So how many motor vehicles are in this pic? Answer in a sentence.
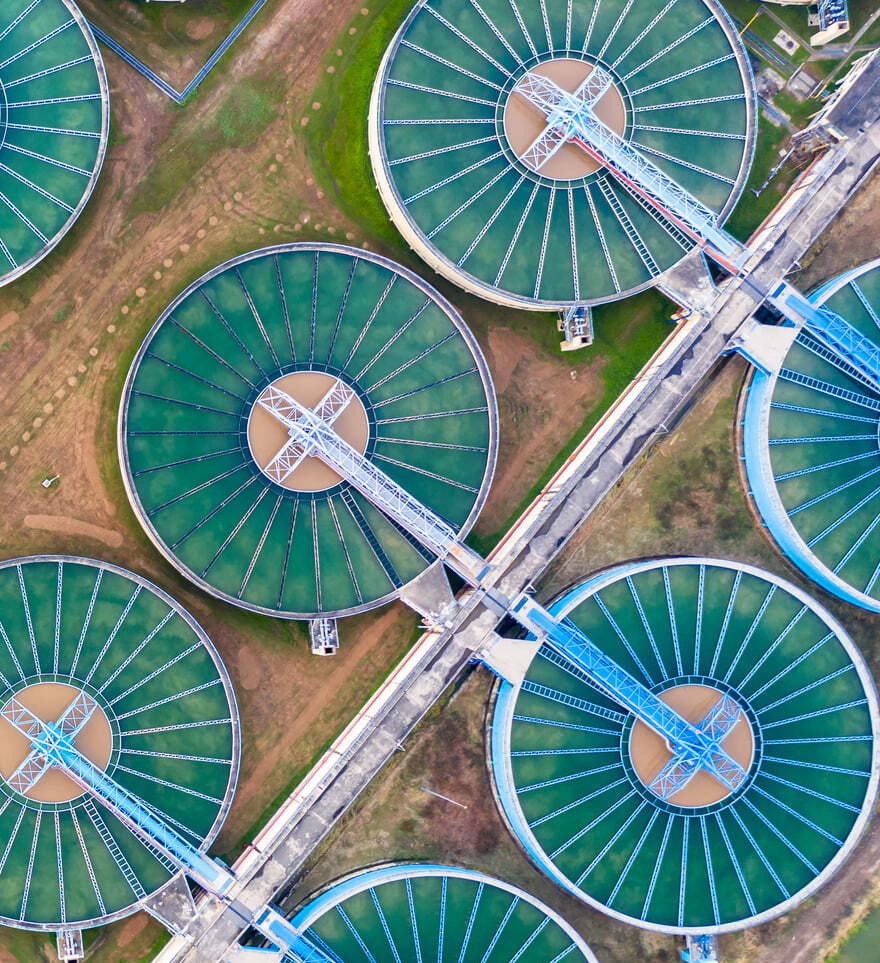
There are no motor vehicles in the image.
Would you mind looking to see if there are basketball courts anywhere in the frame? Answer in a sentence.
No, the photo shows no basketball court.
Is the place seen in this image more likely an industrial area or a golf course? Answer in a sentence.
This image shows an industrial area.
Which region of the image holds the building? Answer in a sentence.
The building is located in the top right region of the scene.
